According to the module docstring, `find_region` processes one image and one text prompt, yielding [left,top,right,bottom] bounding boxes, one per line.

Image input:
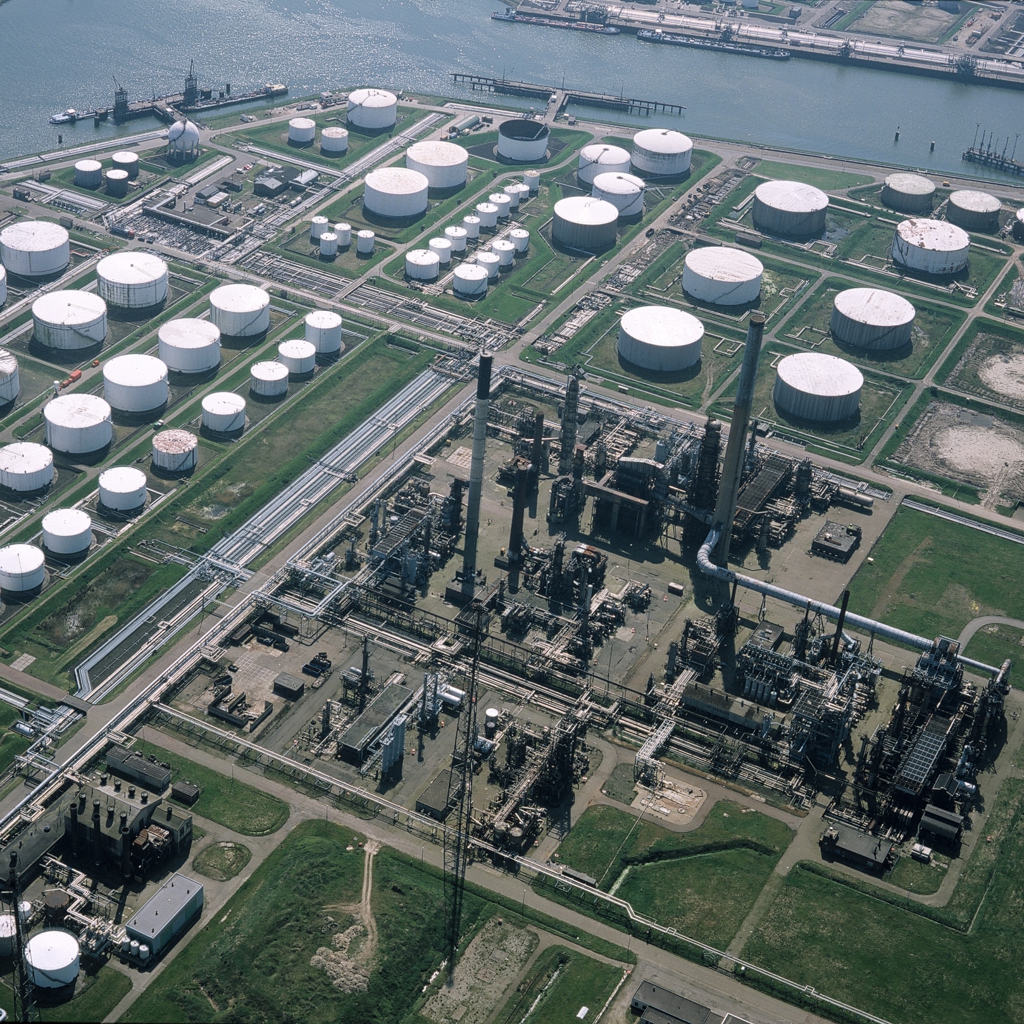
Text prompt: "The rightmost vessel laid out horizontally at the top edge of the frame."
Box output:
[636,25,790,58]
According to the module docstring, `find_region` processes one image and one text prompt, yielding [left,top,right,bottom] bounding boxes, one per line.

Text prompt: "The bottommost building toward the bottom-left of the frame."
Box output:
[124,871,205,956]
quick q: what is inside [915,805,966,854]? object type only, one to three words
shed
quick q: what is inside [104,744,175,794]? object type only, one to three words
building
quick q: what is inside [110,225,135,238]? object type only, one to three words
vehicle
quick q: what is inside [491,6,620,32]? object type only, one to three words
ship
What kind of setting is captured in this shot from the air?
industrial area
